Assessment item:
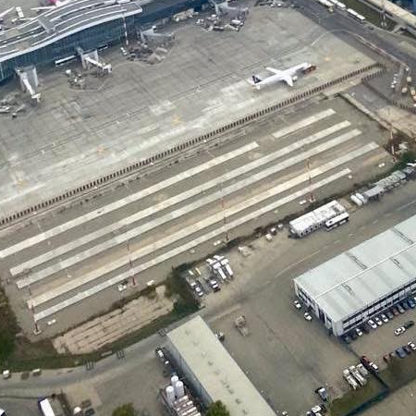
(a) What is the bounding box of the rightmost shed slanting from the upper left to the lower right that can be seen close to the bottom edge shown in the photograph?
[166,314,276,416]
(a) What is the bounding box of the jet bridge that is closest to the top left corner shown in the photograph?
[21,68,43,105]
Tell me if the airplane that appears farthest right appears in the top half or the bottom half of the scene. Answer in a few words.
top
